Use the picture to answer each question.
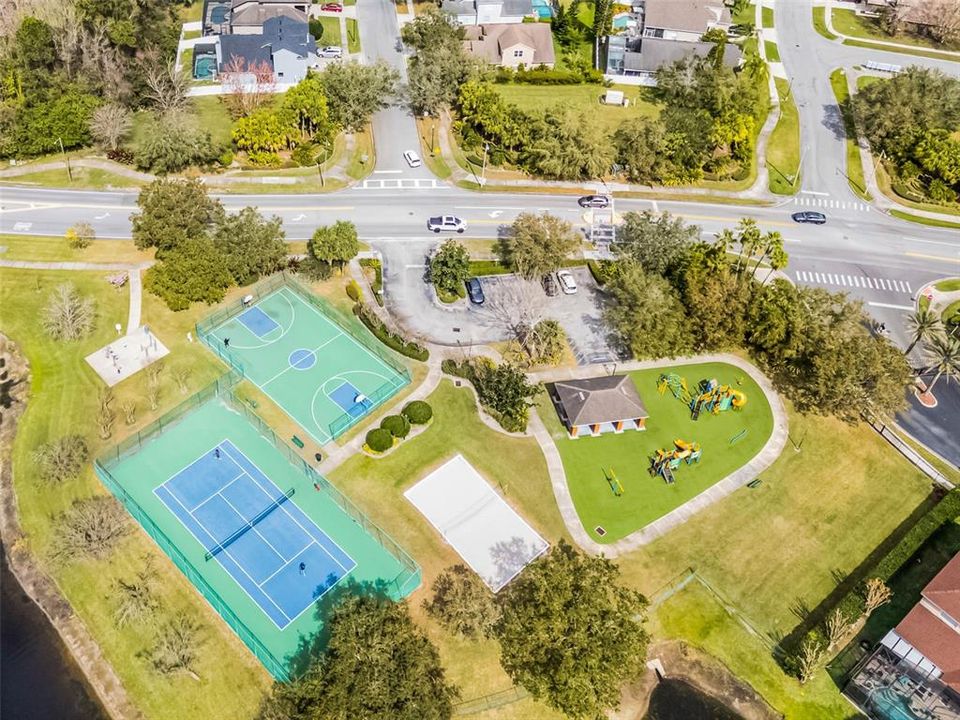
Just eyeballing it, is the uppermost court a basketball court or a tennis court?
basketball court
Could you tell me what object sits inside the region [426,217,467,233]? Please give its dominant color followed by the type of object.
white vehicle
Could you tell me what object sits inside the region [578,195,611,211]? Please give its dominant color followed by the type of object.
gray car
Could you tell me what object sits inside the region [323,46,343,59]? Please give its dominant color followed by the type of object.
white vehicle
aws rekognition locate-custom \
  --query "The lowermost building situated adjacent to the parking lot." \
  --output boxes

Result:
[553,374,650,440]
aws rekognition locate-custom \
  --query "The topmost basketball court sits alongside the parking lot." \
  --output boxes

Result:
[196,282,411,445]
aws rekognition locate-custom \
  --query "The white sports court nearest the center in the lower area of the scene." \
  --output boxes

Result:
[403,454,550,592]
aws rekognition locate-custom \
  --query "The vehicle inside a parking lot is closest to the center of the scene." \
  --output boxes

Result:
[467,277,487,303]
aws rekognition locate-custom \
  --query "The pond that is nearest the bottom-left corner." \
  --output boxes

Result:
[0,536,112,720]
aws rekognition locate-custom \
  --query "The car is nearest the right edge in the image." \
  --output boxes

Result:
[793,210,829,226]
